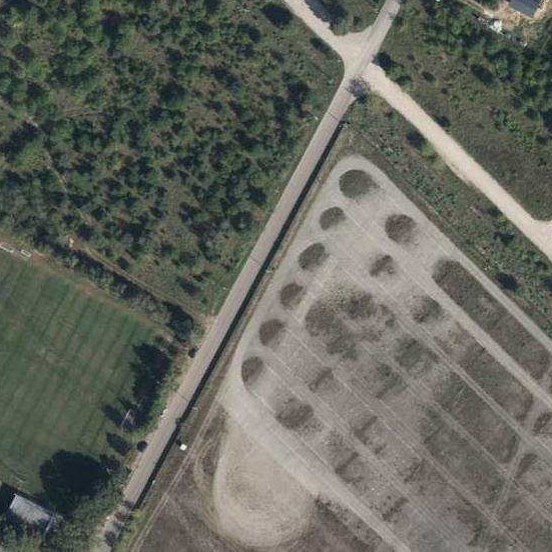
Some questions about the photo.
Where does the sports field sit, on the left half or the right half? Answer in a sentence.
The sports field appears in the left half of the scene.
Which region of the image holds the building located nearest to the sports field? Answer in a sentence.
The building located nearest to the sports field sits in the bottom left section of the image.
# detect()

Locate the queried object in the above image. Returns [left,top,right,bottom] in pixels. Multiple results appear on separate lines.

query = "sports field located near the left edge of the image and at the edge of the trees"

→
[0,239,164,508]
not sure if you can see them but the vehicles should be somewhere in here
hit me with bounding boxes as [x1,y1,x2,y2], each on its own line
[188,346,197,357]
[139,441,147,451]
